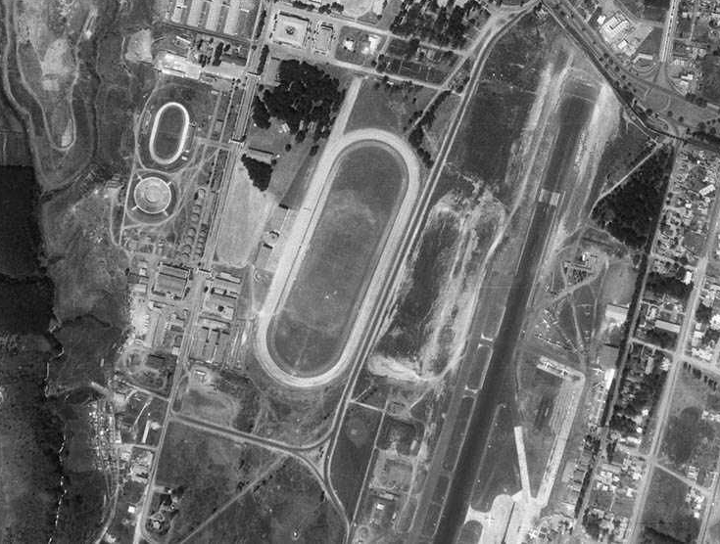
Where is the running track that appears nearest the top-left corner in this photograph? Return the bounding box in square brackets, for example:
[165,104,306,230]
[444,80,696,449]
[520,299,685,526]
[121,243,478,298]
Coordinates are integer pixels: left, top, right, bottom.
[150,102,189,164]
